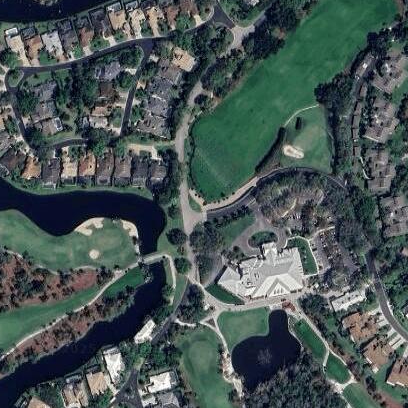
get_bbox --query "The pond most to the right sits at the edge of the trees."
[232,310,302,394]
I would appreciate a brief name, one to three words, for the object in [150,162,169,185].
house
